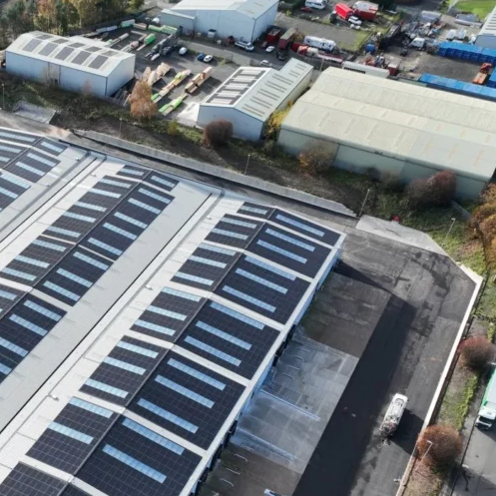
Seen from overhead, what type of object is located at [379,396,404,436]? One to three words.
truck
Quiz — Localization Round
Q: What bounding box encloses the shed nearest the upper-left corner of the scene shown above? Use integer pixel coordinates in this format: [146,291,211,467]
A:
[4,31,134,99]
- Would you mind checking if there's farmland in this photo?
No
